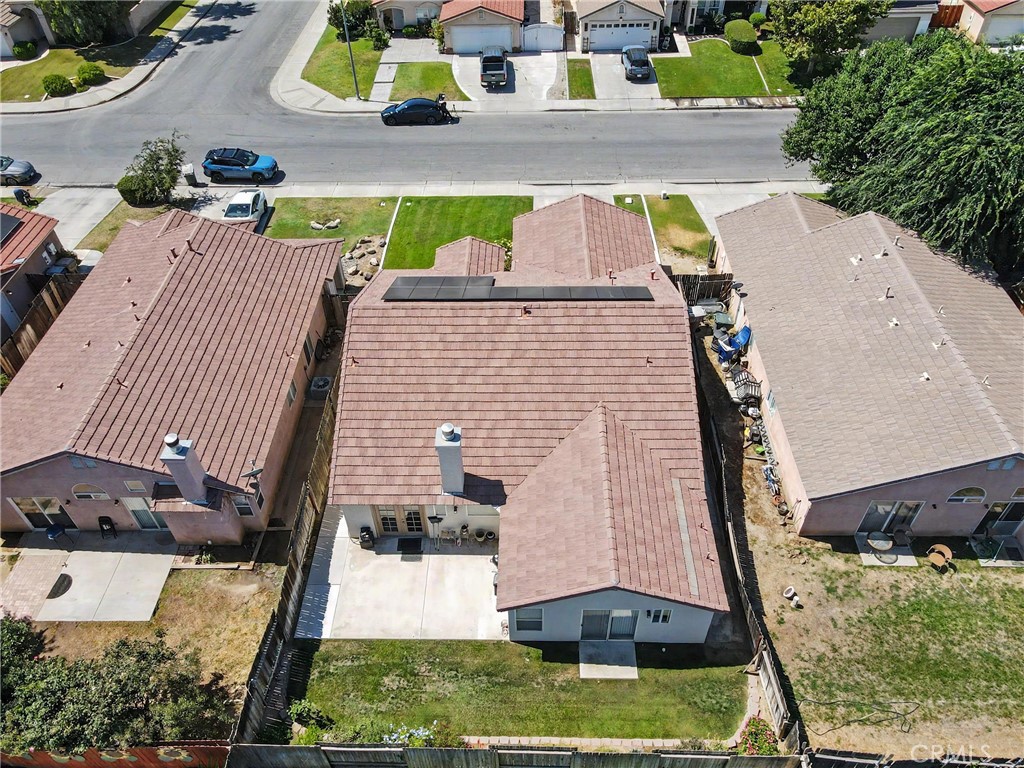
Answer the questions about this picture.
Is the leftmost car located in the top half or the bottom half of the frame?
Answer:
top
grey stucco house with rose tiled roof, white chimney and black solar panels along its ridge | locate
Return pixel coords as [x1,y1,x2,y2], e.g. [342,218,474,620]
[329,196,731,643]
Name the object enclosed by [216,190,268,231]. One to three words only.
car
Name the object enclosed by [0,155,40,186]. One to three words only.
car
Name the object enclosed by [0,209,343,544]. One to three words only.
house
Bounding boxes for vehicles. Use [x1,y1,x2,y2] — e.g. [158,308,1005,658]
[216,190,268,231]
[201,145,281,183]
[0,155,40,186]
[619,45,649,76]
[379,91,447,125]
[481,43,512,84]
